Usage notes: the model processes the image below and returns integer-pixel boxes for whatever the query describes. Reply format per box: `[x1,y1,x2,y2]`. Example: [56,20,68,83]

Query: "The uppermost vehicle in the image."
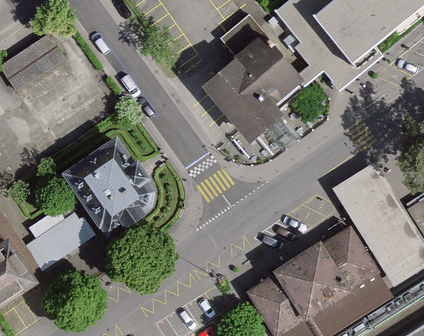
[111,0,132,18]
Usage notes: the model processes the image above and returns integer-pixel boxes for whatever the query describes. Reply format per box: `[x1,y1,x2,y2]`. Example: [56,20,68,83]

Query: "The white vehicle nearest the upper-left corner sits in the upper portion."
[89,31,112,56]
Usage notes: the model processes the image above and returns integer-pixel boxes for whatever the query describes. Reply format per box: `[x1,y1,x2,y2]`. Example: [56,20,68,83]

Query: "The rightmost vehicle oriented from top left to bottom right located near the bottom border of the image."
[196,297,218,320]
